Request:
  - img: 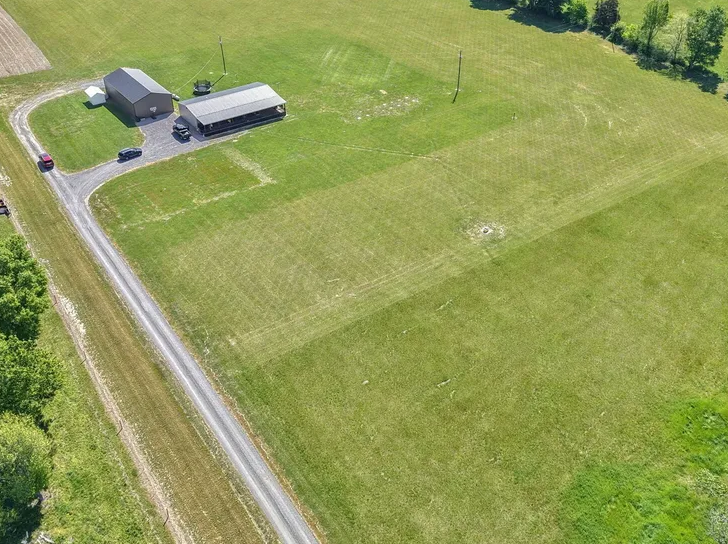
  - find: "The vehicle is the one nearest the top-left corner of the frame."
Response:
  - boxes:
[35,154,50,169]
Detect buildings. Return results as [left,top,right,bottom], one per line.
[102,66,174,119]
[181,81,287,135]
[85,88,104,105]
